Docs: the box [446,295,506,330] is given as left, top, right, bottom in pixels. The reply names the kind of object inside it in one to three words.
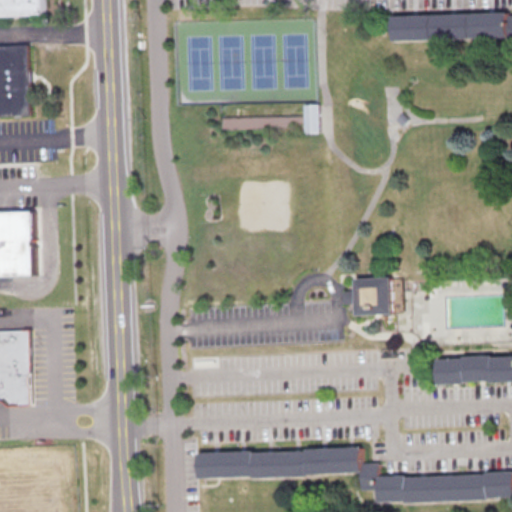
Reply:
swimming pool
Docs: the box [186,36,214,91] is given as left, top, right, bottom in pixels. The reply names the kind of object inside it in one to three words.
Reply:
tennis court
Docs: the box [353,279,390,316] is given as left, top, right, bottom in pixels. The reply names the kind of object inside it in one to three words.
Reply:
building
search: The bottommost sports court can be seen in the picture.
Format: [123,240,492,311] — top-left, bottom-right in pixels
[240,180,290,232]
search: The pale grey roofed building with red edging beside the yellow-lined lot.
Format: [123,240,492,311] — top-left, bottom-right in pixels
[0,330,34,406]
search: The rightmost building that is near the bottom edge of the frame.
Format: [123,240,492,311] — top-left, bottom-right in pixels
[374,472,512,503]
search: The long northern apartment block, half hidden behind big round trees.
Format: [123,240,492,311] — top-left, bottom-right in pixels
[388,13,509,40]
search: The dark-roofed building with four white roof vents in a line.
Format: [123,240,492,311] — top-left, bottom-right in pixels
[0,44,32,116]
